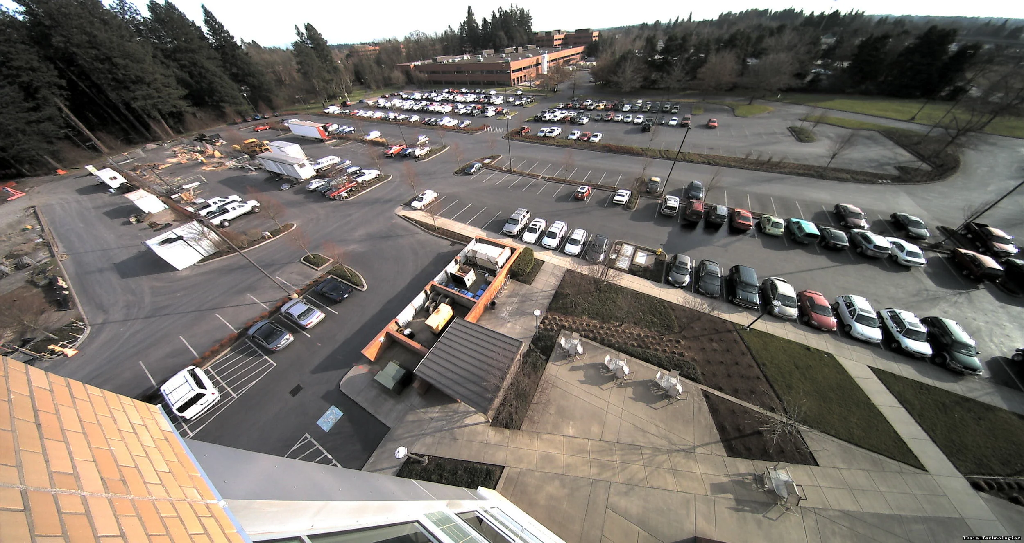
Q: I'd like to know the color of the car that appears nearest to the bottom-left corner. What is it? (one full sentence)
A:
The car that appears nearest to the bottom-left corner looks white in the image.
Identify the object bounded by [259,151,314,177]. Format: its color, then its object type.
white trailer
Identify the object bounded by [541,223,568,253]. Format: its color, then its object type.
white car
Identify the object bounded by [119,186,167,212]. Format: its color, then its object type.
white trailer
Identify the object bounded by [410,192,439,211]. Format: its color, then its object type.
white car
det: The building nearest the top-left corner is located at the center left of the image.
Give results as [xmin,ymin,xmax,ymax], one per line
[134,219,226,268]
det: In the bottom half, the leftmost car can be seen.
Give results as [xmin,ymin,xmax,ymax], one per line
[158,367,223,419]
